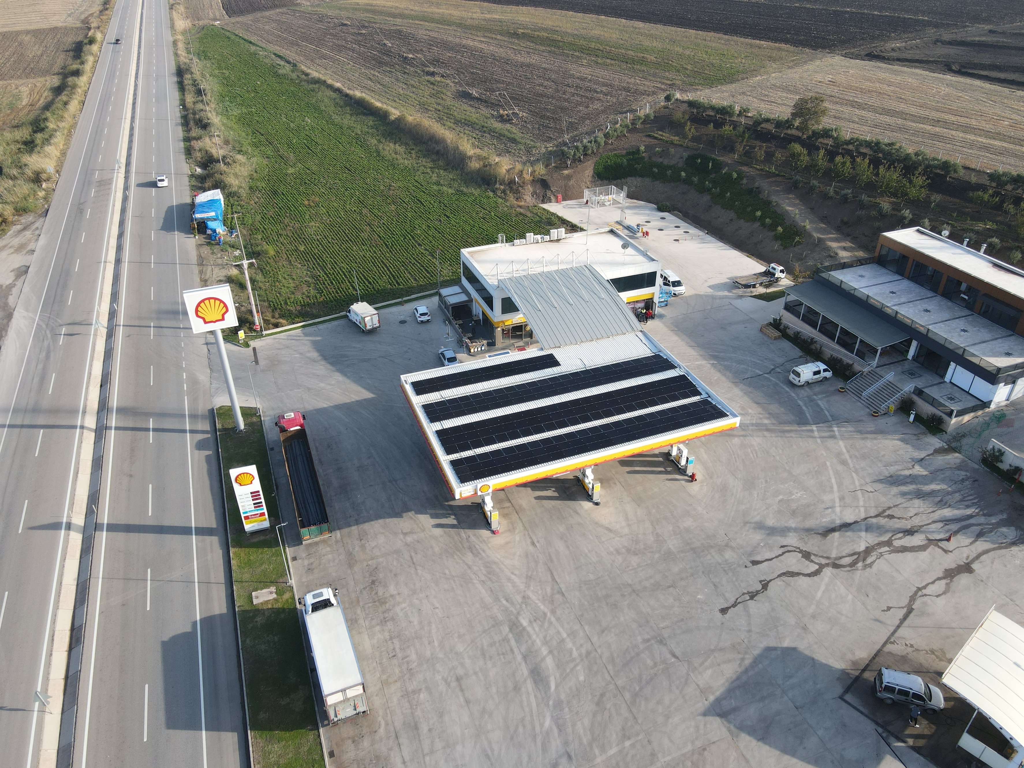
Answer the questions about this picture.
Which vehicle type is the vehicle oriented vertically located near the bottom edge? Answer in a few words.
truck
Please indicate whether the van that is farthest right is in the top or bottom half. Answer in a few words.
bottom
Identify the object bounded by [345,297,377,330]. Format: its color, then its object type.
white van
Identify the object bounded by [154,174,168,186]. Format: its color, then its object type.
white vehicle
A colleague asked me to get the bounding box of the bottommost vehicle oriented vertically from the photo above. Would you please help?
[301,585,369,732]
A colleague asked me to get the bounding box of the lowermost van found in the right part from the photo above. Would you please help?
[874,667,947,716]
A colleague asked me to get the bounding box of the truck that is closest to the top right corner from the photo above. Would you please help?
[729,264,788,290]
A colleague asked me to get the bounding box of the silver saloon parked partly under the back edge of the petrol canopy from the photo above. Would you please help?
[434,342,462,365]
